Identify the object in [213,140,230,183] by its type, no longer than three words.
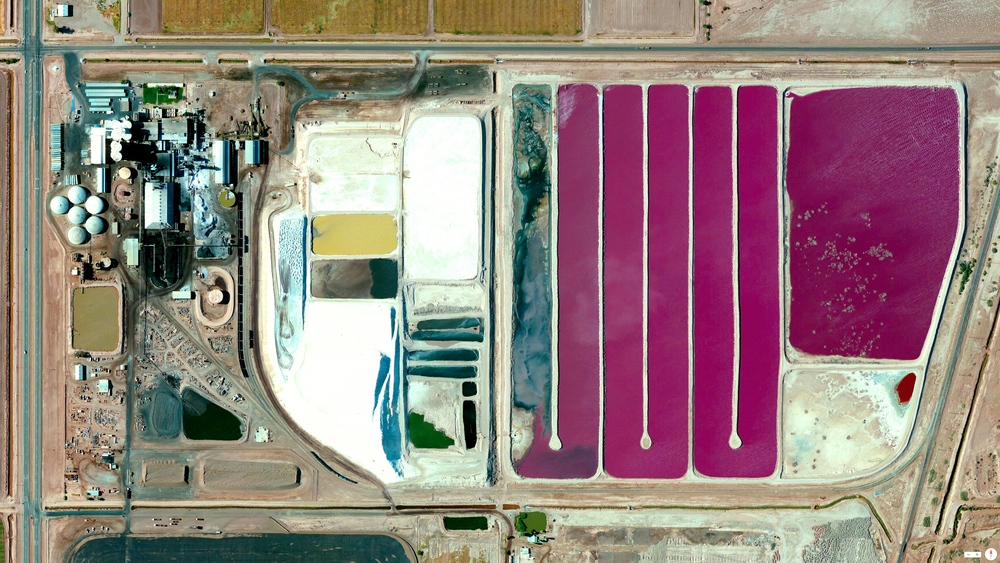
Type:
building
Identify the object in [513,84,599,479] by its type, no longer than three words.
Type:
pond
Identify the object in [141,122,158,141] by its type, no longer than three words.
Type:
building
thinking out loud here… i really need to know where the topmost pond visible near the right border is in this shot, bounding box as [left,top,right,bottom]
[785,87,959,359]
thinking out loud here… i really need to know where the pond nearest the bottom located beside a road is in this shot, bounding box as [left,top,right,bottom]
[69,535,411,563]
